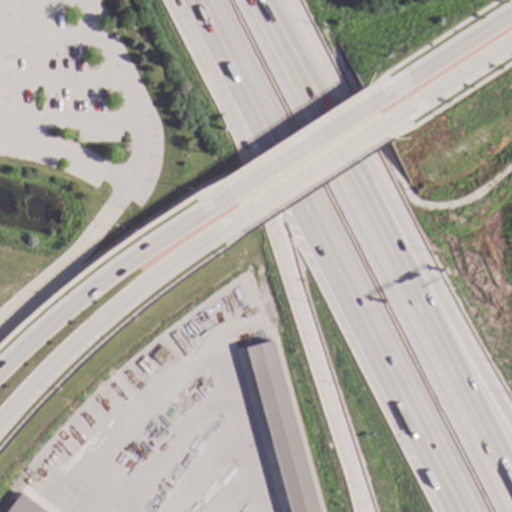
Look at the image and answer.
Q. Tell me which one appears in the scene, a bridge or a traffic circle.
bridge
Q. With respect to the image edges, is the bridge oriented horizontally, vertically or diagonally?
diagonally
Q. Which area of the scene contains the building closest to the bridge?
bottom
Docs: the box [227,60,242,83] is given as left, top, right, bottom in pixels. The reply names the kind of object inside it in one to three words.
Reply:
vehicle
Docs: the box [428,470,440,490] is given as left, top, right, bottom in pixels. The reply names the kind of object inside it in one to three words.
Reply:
vehicle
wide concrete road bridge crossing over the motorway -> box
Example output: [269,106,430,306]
[243,86,393,224]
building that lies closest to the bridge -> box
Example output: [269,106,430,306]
[247,340,320,512]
